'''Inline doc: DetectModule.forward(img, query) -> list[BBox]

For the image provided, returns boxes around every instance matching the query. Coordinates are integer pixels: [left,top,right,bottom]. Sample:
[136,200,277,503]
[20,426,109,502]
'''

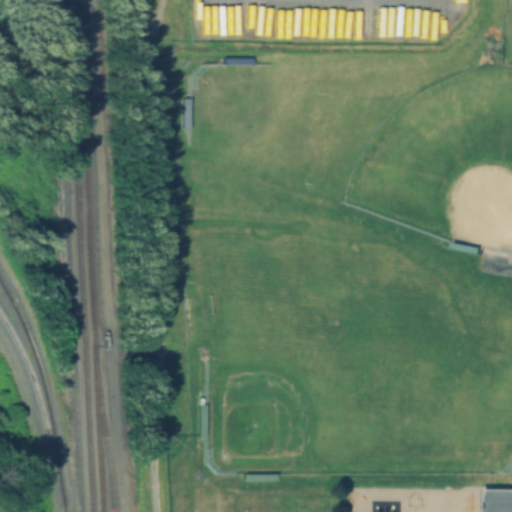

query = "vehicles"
[386,6,396,39]
[310,8,319,38]
[202,4,212,37]
[302,7,311,38]
[284,9,294,40]
[196,0,204,22]
[226,4,234,37]
[234,4,242,36]
[344,10,354,40]
[378,6,388,39]
[327,7,337,40]
[218,5,227,38]
[211,4,220,36]
[420,10,430,40]
[430,12,439,42]
[404,8,414,38]
[412,7,422,38]
[247,4,256,30]
[395,6,406,38]
[318,8,328,40]
[336,8,346,40]
[264,6,274,38]
[439,16,448,34]
[354,10,364,41]
[293,7,302,38]
[276,9,285,40]
[256,5,266,38]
